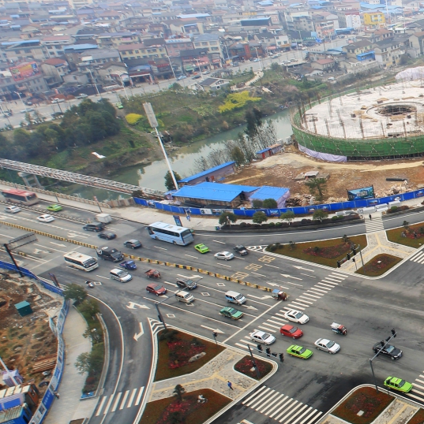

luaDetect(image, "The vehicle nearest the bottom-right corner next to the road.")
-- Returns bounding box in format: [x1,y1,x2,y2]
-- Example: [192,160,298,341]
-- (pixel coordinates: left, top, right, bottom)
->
[381,377,414,395]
